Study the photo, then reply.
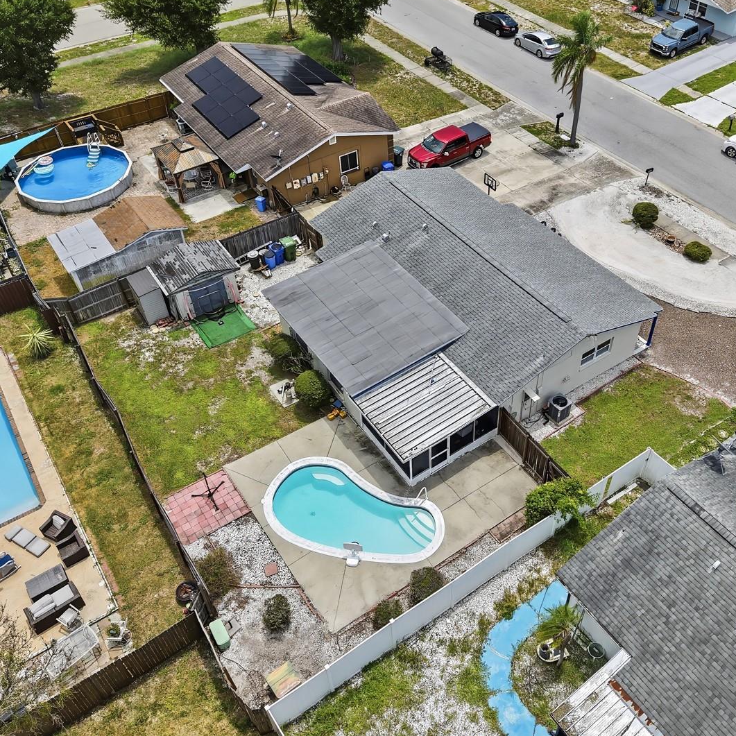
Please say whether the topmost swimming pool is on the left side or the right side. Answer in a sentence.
It is on the left.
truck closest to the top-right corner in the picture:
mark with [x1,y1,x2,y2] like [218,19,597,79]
[646,17,714,57]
